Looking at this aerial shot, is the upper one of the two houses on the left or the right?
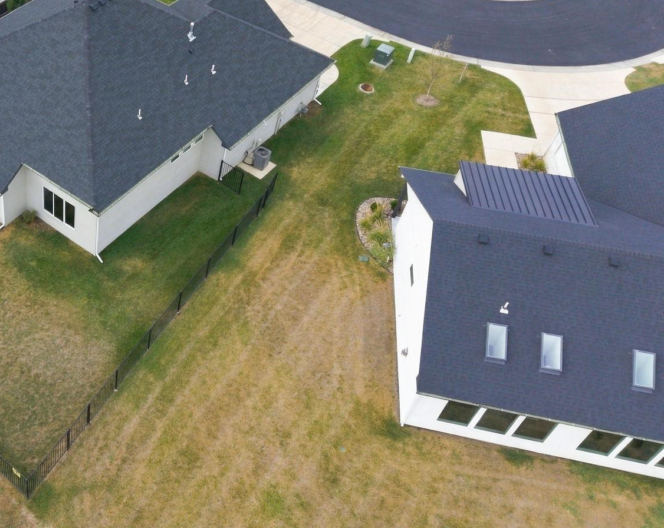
left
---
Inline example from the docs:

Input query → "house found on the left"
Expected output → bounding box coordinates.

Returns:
[0,0,340,268]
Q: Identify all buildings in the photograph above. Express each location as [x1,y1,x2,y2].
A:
[393,95,664,475]
[0,0,340,268]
